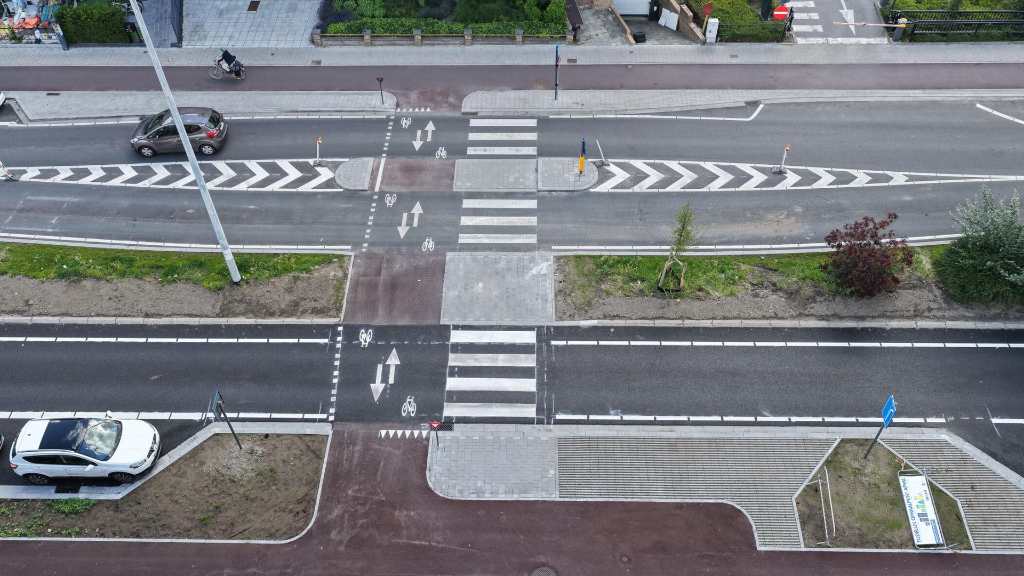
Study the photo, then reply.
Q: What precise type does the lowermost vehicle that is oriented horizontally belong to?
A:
automobile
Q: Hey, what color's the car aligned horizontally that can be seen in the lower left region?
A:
white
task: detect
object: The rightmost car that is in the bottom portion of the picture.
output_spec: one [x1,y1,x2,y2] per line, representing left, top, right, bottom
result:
[7,407,161,485]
